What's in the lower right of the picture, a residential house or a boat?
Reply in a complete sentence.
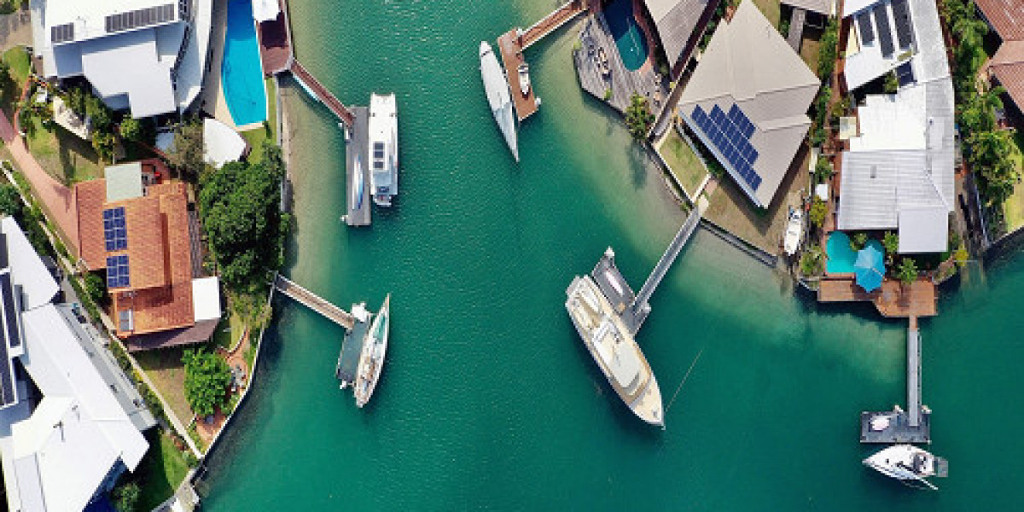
The one visible in the lower right of the picture is a boat.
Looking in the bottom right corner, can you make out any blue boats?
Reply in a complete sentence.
No, no blue boat is visible in the bottom right corner.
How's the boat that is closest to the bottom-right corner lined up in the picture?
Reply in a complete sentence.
The boat that is closest to the bottom-right corner is oriented from side to side.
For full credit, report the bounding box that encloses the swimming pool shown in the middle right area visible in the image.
[823,229,888,276]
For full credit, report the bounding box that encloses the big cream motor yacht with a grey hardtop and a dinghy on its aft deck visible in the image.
[563,276,668,433]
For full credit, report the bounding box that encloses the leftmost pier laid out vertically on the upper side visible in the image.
[341,105,371,226]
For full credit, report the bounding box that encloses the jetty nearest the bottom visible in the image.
[859,405,933,443]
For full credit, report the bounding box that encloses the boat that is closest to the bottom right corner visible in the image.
[863,446,946,488]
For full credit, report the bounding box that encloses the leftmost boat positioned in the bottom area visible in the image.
[354,295,391,408]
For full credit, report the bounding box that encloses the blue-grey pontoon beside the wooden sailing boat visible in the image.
[335,304,373,387]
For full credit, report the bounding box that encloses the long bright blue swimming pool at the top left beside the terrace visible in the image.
[219,0,270,130]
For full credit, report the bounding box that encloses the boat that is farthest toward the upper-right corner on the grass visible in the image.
[784,206,802,254]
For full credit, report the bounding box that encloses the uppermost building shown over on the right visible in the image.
[777,0,825,37]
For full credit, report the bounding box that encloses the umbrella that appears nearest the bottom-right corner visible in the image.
[846,249,886,288]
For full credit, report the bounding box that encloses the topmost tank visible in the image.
[834,117,855,141]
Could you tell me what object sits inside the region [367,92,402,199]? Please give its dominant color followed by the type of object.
white boat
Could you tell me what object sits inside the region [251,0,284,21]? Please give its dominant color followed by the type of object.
white umbrella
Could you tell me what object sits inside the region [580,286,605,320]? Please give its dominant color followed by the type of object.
white boat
